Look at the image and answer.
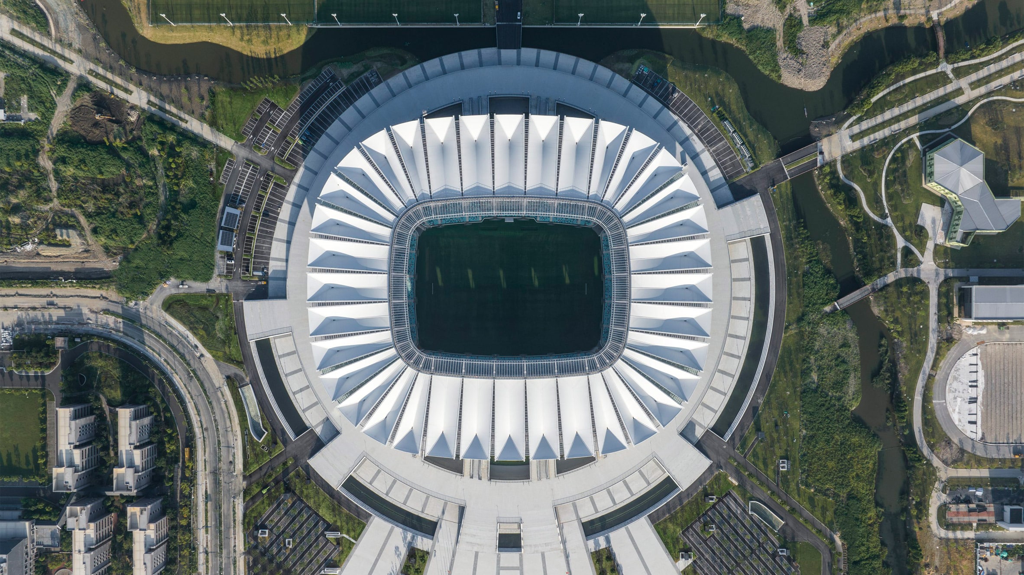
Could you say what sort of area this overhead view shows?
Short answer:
sports ground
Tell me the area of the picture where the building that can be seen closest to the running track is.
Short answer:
right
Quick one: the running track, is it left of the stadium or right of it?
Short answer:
right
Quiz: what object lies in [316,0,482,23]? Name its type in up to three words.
sports field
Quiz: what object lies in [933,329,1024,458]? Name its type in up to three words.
running track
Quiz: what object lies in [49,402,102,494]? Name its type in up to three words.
building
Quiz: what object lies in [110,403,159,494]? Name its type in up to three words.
building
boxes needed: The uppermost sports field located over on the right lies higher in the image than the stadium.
[554,0,720,23]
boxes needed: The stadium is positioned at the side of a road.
[306,112,714,463]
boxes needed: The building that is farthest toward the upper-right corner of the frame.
[922,138,1021,247]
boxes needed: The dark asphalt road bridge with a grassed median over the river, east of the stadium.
[768,142,818,189]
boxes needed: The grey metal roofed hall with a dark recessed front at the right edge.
[956,286,1024,322]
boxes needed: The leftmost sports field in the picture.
[146,0,315,23]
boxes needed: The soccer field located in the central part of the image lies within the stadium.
[415,217,605,358]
